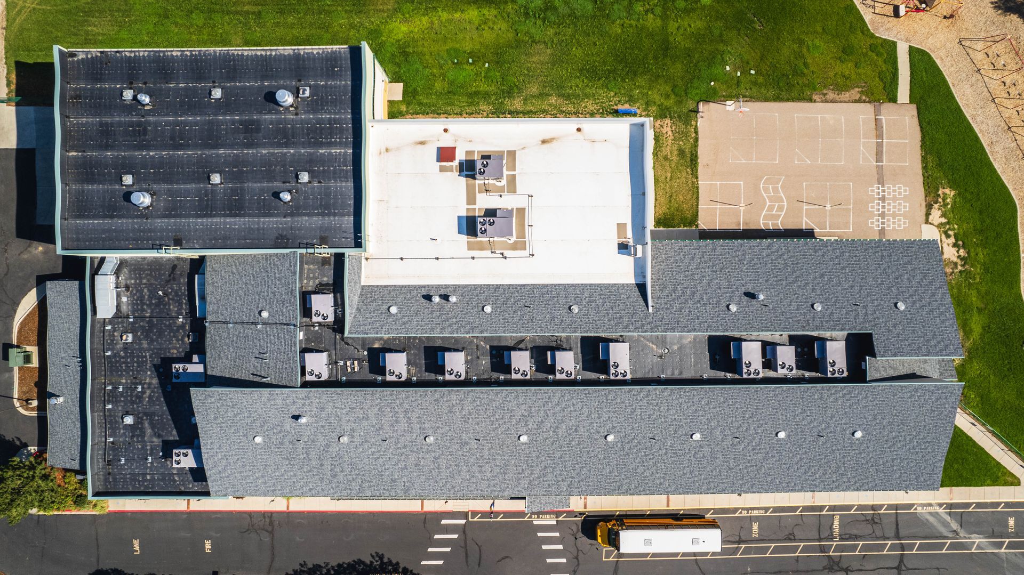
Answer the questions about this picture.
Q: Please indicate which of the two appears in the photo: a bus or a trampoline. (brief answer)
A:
bus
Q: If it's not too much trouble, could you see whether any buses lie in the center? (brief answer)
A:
No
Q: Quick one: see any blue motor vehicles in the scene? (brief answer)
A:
No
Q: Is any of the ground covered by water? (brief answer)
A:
No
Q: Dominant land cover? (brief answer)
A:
buildings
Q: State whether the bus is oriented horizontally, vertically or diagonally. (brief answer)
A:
horizontally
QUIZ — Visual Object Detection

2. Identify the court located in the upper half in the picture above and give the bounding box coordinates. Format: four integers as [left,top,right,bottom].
[698,102,925,239]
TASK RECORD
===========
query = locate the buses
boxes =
[593,518,722,553]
